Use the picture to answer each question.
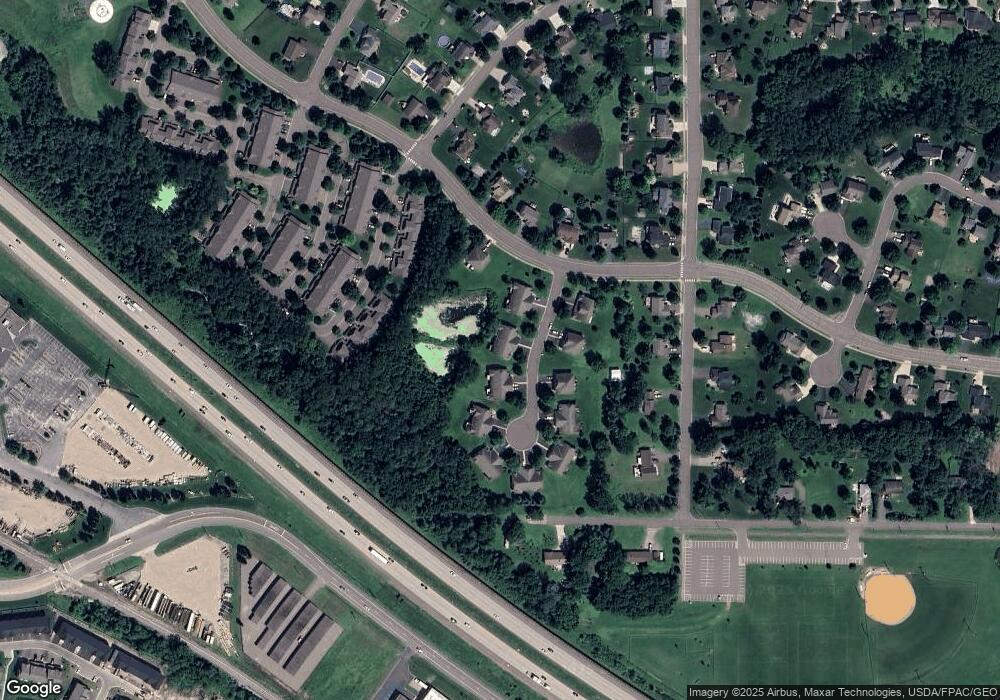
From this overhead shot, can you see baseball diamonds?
Yes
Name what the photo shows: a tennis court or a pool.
pool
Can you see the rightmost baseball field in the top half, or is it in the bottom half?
bottom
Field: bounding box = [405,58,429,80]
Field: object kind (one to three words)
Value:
swimming pool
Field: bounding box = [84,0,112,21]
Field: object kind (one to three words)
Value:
water tower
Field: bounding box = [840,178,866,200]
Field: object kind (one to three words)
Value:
house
